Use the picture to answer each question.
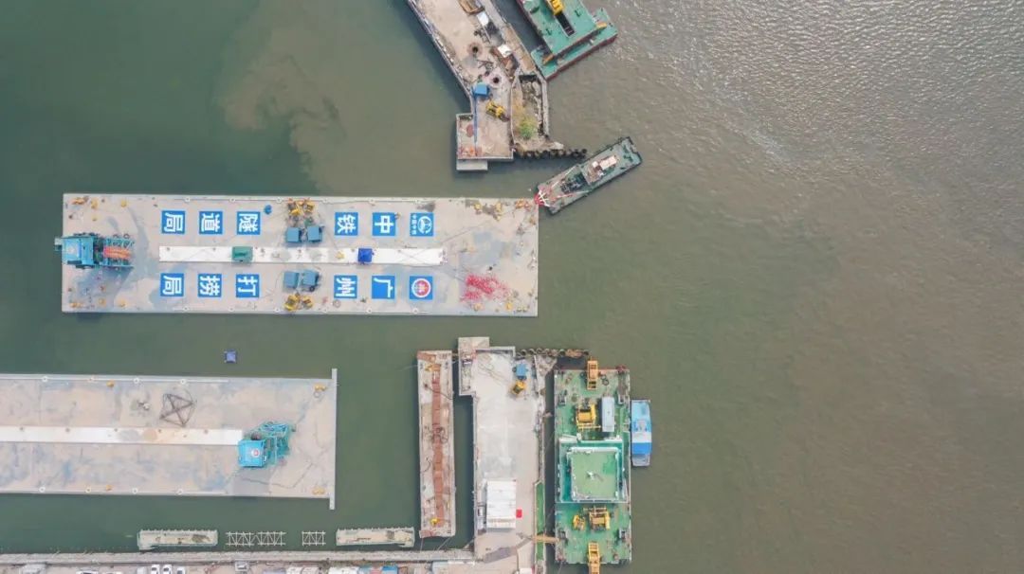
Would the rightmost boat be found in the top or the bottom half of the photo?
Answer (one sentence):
Seen from above, the rightmost boat lies in the bottom half of the view.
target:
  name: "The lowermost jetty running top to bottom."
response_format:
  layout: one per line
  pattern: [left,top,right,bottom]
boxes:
[458,337,555,574]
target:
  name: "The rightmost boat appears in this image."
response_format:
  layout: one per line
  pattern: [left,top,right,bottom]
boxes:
[631,400,652,466]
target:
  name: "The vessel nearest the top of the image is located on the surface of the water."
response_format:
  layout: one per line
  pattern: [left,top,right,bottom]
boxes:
[516,0,617,81]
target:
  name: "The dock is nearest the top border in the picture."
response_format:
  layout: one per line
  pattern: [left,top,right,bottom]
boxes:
[407,0,561,173]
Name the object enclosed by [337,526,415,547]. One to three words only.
pier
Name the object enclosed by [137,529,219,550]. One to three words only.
pier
